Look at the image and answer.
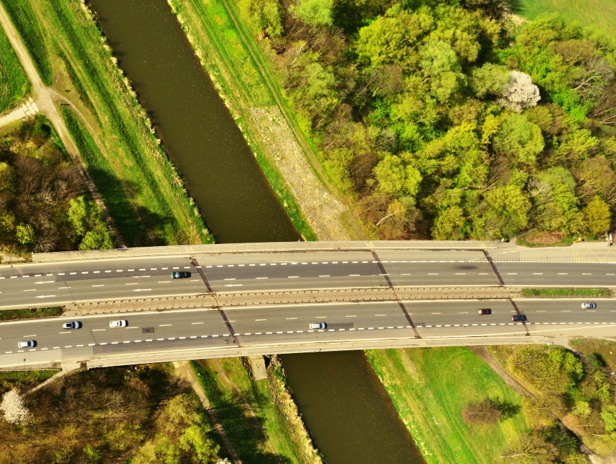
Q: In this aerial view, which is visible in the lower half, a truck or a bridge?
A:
bridge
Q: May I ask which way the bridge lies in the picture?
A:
from side to side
